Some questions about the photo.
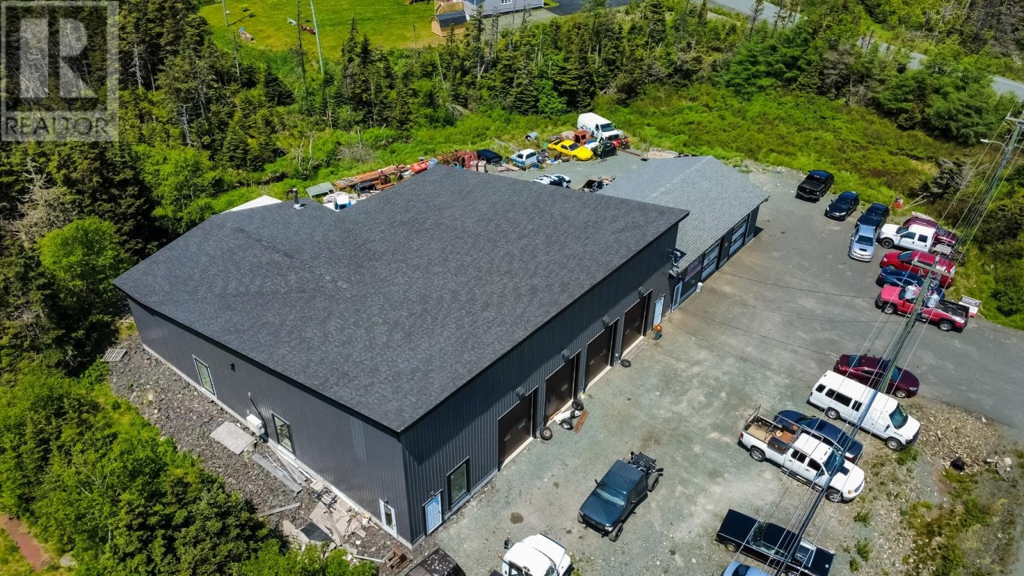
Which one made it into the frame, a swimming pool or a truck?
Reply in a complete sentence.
The image shows a truck.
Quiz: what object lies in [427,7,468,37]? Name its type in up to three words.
shed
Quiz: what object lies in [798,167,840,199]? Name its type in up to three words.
truck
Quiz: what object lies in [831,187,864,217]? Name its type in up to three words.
car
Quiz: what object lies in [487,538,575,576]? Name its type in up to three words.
truck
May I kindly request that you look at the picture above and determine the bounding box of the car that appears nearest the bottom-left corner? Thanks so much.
[415,553,470,576]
